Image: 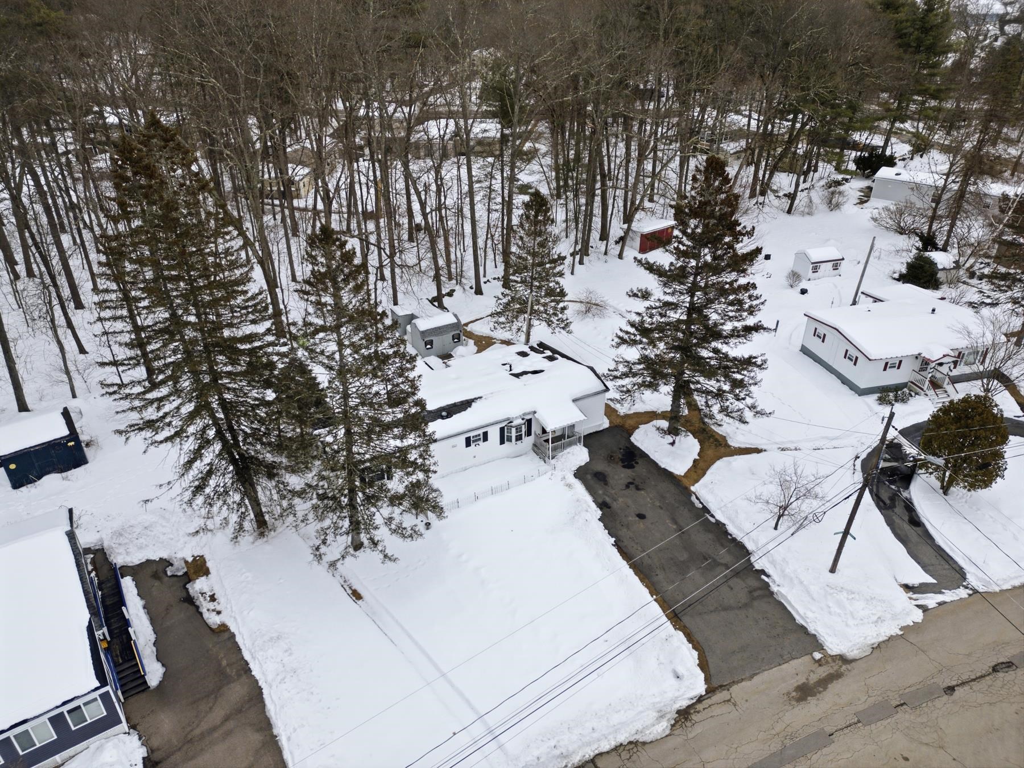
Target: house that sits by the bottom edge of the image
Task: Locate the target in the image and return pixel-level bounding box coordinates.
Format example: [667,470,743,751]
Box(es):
[0,518,138,768]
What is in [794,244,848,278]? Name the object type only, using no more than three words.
shed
